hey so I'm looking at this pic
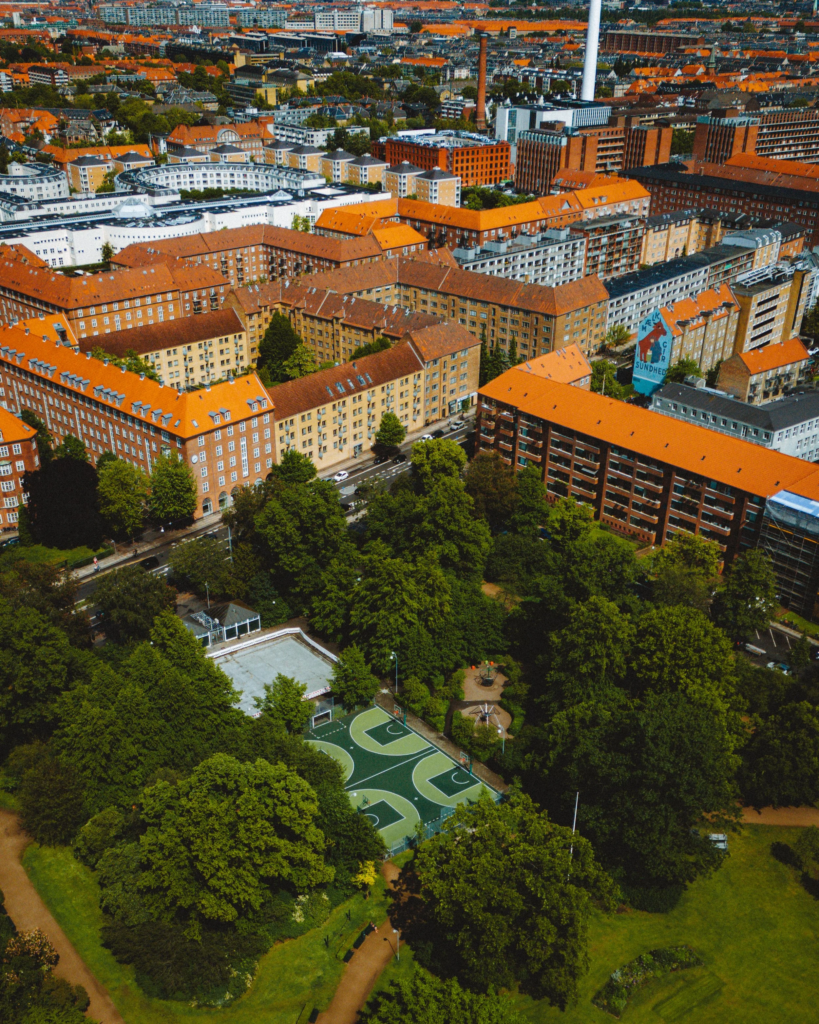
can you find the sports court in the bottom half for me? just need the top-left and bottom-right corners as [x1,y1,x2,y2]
[279,702,509,857]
